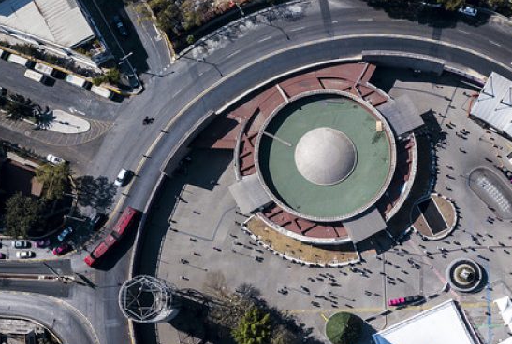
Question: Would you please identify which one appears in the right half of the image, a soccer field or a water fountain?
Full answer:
There is a water fountain in the right half of the image.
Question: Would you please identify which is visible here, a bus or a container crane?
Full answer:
It is a bus that can be seen here.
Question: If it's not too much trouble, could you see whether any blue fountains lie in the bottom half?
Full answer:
No, no blue fountain appears in the bottom half.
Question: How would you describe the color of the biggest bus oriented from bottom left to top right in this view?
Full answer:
In this view, the biggest bus oriented from bottom left to top right is red.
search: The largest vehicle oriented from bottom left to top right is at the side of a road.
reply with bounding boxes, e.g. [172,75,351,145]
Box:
[83,208,136,264]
